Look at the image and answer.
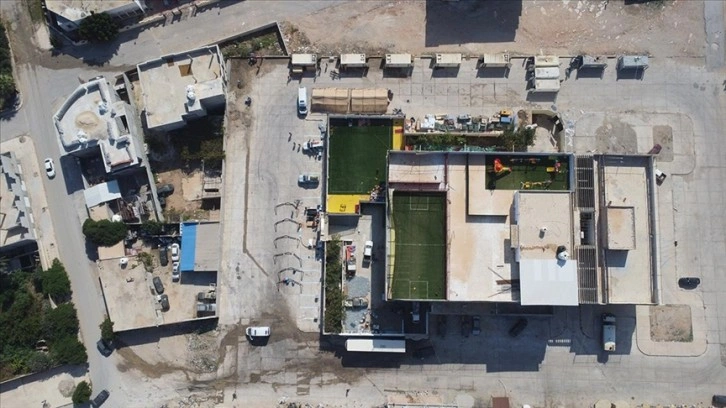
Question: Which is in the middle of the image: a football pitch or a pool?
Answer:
football pitch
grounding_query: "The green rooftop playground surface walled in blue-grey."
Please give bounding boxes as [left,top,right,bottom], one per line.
[486,155,568,189]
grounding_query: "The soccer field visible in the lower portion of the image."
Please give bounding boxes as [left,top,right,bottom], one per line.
[391,191,446,299]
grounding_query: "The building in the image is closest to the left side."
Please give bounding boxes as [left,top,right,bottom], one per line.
[0,150,52,250]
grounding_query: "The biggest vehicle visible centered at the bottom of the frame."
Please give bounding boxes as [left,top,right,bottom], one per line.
[345,338,406,353]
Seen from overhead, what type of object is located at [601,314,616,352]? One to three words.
vehicle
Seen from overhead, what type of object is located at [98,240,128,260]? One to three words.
shed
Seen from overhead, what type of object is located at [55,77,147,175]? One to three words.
house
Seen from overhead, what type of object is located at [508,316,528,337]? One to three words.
car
